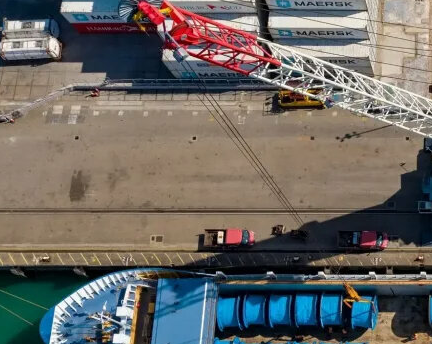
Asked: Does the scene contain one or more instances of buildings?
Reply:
No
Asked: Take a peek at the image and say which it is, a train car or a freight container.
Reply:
freight container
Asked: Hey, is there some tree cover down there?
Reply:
No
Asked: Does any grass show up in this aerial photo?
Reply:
No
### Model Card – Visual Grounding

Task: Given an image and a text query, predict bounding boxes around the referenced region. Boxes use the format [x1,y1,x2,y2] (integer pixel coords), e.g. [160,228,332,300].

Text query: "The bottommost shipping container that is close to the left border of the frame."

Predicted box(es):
[0,37,65,64]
